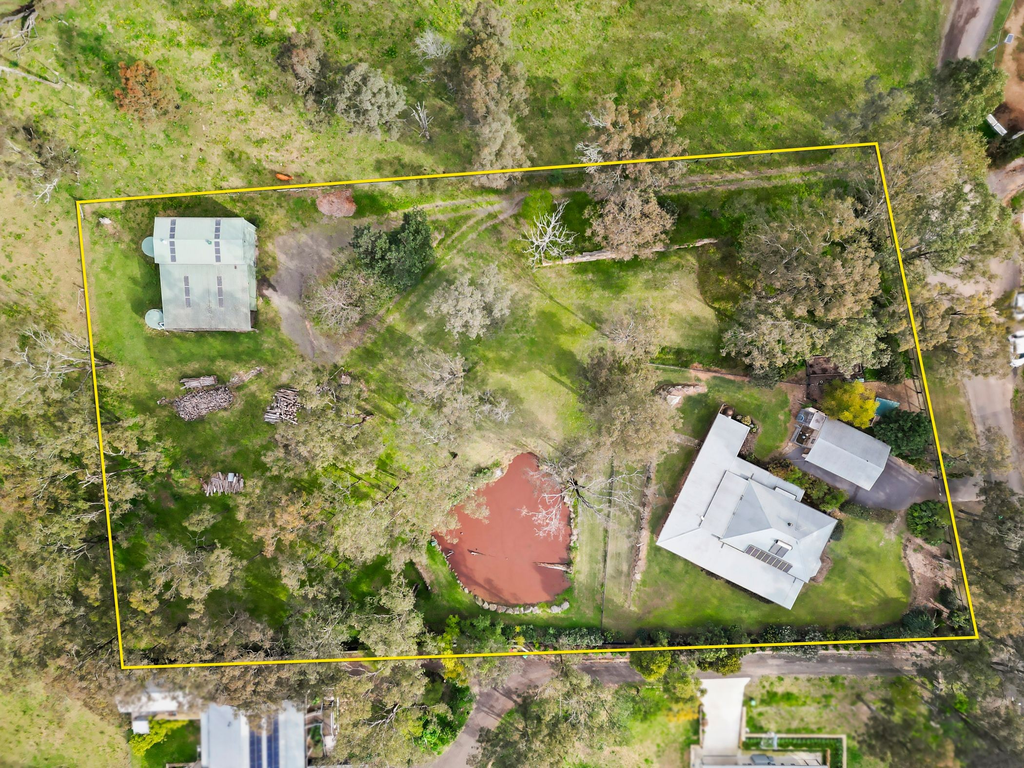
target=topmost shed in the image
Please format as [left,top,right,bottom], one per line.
[152,217,258,331]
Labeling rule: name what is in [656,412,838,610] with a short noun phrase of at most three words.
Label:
house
